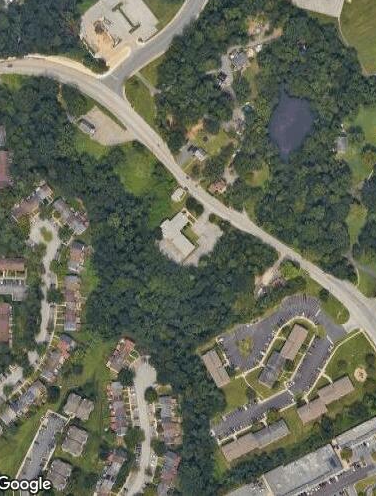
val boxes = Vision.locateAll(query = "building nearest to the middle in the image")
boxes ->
[160,212,194,255]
